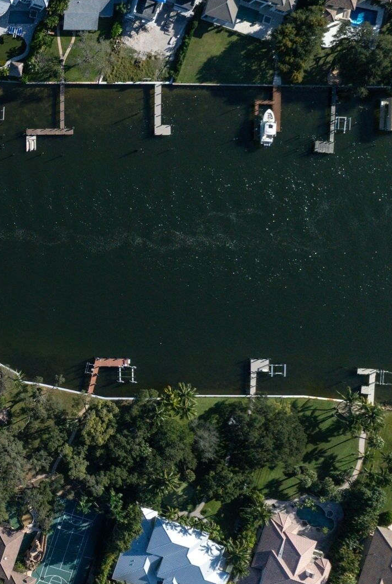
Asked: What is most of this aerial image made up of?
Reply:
water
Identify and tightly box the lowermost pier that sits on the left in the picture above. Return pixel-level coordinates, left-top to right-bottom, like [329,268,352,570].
[89,358,131,395]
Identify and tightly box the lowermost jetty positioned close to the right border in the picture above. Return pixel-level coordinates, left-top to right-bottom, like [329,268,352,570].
[354,368,379,400]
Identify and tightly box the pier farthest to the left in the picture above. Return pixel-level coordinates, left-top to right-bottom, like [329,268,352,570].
[25,84,73,136]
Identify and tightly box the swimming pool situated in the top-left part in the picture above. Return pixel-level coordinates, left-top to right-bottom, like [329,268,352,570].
[7,10,39,25]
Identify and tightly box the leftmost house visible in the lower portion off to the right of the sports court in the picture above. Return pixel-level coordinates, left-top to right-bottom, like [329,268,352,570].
[111,507,229,584]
